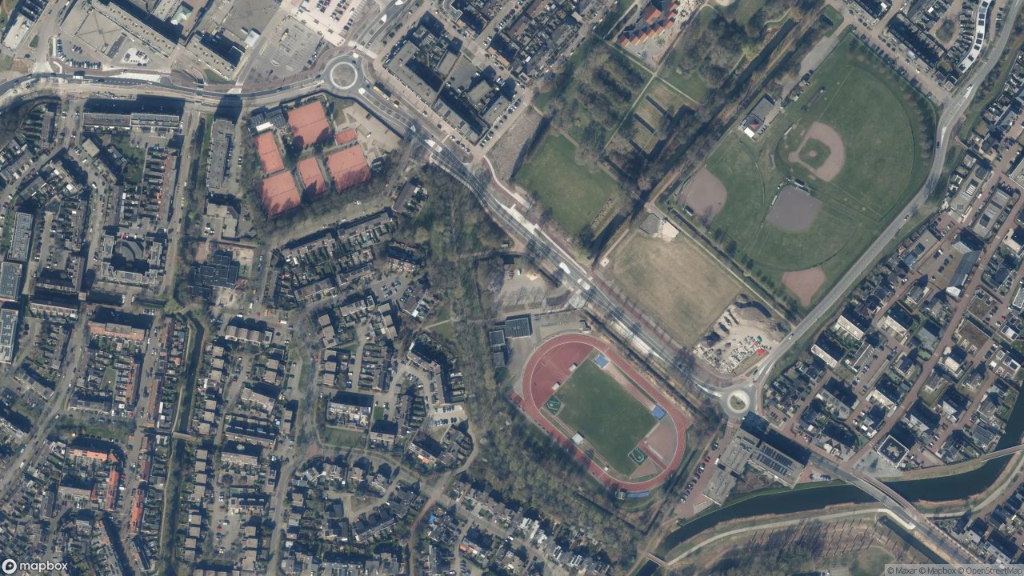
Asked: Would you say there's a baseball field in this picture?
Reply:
Yes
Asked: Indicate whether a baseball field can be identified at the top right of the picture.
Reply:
Yes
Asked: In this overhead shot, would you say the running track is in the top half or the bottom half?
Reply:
bottom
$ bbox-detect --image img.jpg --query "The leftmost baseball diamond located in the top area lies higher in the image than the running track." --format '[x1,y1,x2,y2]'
[679,168,726,221]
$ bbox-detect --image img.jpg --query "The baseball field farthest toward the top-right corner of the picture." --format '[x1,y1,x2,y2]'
[788,67,913,222]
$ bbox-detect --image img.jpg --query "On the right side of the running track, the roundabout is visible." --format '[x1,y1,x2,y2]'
[723,386,755,418]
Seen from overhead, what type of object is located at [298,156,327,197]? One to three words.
tennis court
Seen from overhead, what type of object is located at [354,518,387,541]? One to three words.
building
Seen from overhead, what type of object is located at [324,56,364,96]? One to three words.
roundabout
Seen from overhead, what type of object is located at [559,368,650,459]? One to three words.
soccer field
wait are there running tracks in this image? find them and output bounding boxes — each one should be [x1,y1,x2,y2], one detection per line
[514,335,696,491]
